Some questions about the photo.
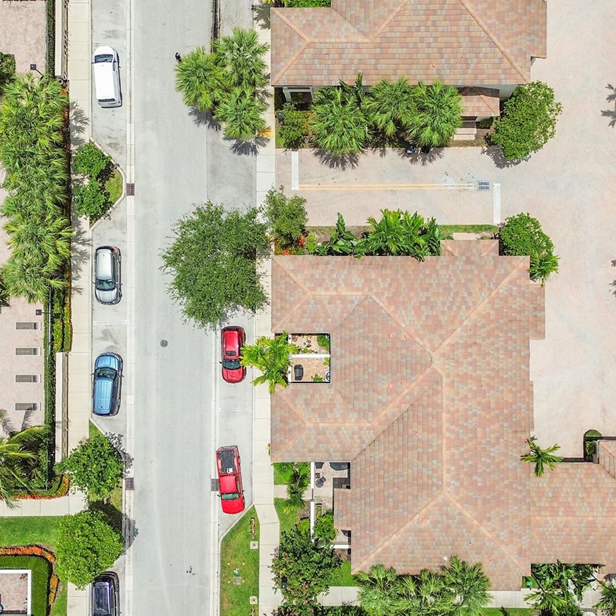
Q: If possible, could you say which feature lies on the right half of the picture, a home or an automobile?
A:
home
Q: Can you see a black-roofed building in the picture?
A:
No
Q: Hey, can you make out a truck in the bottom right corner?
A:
No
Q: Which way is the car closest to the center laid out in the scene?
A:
vertically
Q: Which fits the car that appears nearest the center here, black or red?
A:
red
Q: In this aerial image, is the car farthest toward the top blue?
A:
No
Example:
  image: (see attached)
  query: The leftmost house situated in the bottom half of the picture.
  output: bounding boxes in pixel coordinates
[270,239,545,592]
